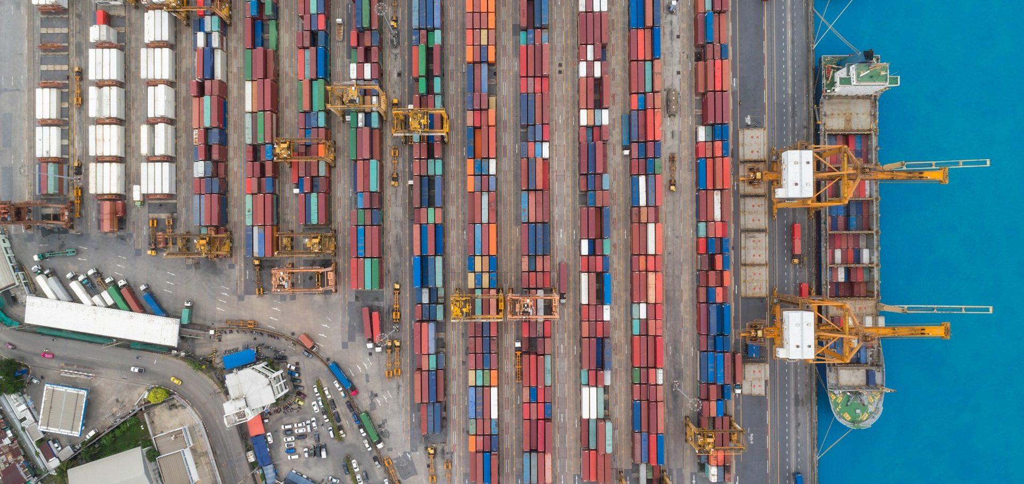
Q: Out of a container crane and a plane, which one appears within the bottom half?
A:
container crane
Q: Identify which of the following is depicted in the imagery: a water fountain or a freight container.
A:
freight container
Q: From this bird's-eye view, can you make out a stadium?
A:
No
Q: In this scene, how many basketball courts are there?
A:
zero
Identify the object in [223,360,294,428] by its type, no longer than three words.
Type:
building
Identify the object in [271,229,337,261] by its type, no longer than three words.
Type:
container crane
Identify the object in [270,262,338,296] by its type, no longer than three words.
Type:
container crane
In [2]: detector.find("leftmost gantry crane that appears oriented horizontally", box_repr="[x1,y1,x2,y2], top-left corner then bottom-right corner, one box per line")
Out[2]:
[0,199,73,231]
